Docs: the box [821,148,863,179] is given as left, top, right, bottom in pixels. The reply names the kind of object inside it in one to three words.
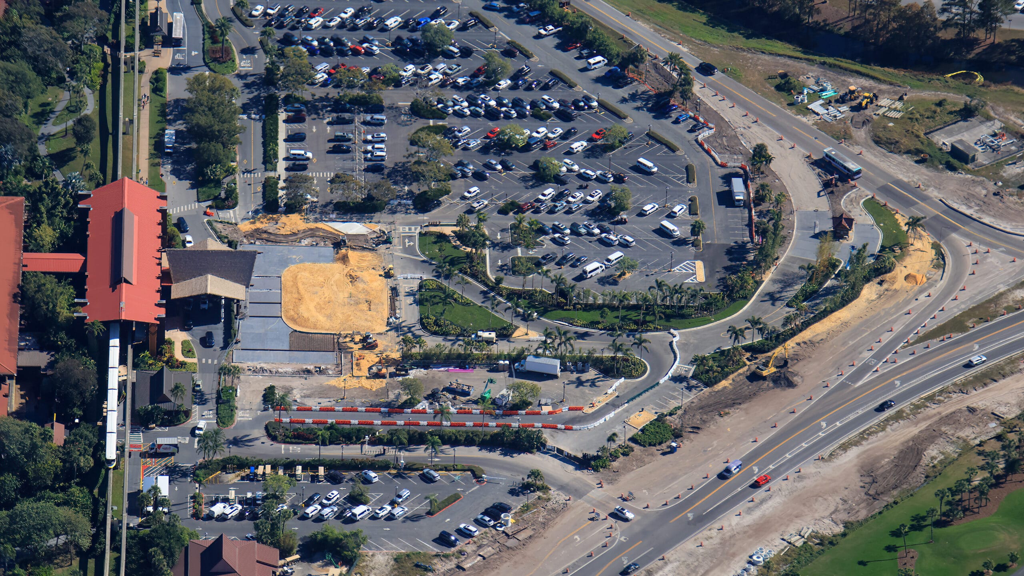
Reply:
bus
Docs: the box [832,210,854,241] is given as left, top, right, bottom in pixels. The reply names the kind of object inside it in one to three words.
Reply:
building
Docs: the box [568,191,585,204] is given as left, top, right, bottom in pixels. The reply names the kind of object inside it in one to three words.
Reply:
vehicle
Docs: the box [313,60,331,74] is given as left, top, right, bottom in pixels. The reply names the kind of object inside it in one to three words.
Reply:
vehicle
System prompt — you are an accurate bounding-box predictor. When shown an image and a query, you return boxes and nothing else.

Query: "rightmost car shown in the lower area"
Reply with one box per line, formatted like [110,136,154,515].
[969,355,988,367]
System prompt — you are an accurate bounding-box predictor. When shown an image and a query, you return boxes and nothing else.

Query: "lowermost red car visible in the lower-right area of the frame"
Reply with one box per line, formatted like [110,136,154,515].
[754,475,772,488]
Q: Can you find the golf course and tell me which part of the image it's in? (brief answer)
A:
bottom right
